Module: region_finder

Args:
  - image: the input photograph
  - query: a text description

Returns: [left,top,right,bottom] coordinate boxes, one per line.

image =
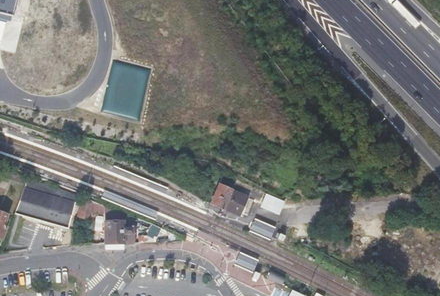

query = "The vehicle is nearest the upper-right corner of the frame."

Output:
[388,0,420,28]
